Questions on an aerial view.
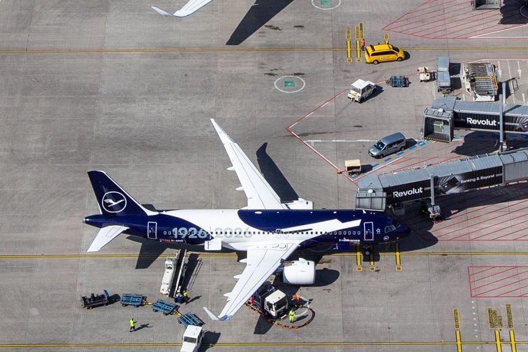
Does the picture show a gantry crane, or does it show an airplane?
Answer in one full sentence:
I can see an airplane in this picture.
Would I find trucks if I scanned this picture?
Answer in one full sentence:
Yes, there's a truck here.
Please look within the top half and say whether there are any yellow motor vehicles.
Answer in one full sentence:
Yes, the scene does show a yellow motor vehicle within the top half.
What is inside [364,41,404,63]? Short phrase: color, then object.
yellow vehicle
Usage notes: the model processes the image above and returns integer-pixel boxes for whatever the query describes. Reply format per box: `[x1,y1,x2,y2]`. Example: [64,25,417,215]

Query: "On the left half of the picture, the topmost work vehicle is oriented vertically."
[161,242,187,298]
